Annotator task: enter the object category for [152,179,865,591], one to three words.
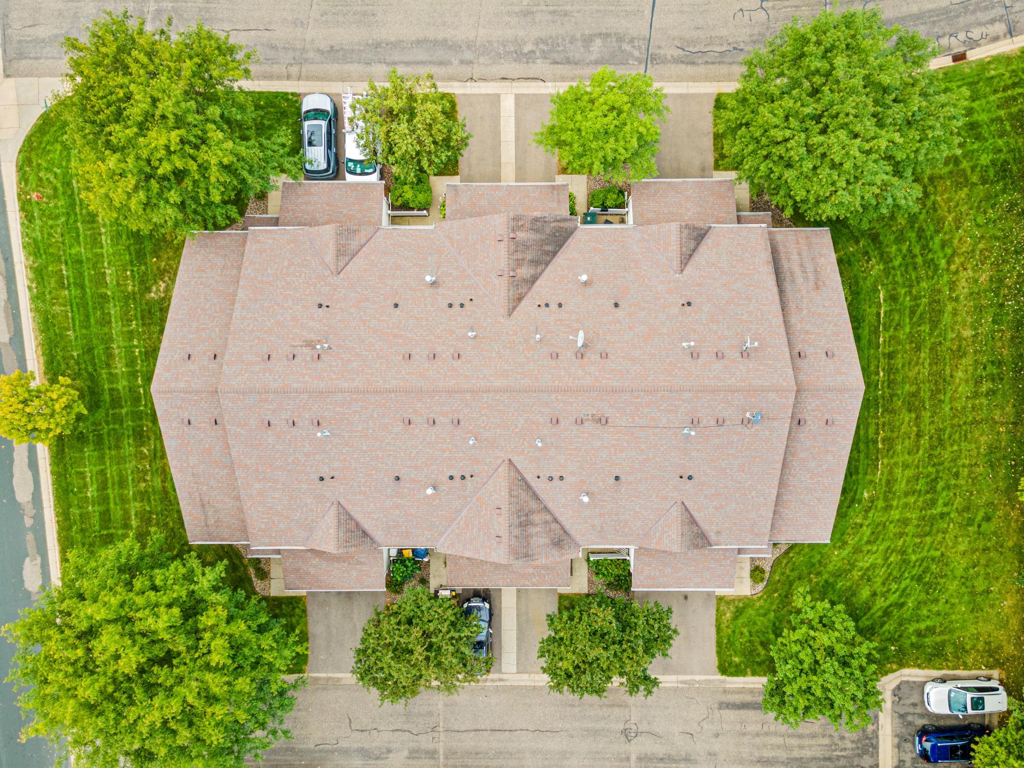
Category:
house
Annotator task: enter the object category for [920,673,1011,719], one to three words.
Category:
car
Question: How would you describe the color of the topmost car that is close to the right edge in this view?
white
